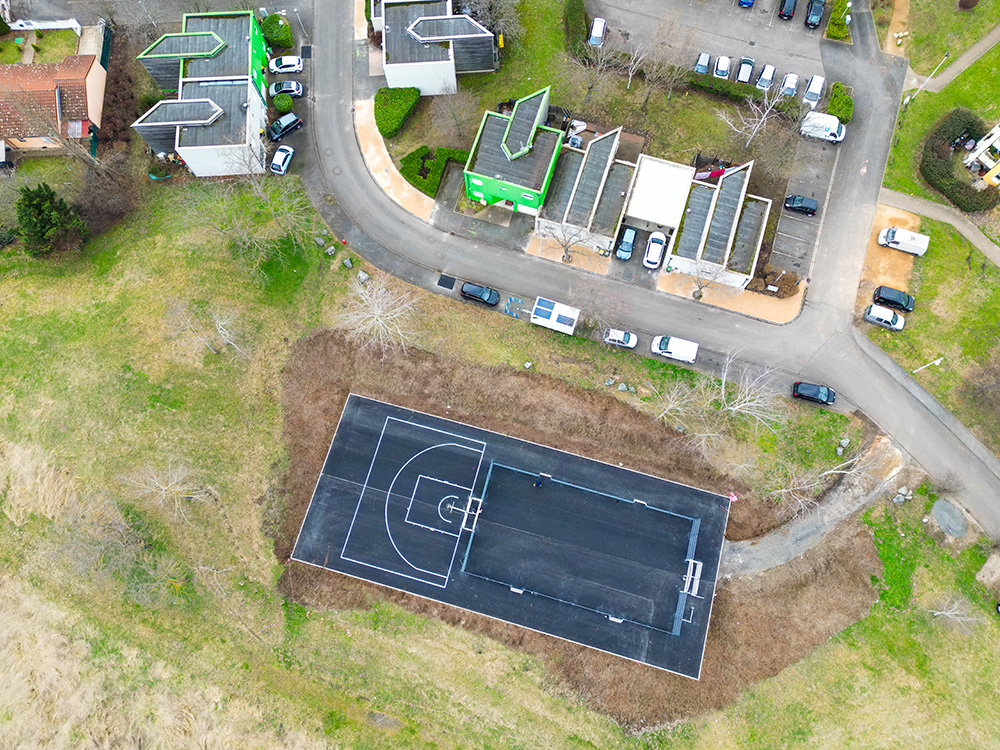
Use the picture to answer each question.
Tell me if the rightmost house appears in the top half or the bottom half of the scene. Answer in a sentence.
Seen from above, the rightmost house lies in the top half of the view.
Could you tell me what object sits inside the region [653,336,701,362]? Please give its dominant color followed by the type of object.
white vehicle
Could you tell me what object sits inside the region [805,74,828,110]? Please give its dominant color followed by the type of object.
white car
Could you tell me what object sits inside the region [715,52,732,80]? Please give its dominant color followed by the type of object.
white car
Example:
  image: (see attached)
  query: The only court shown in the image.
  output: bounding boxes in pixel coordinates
[290,394,732,681]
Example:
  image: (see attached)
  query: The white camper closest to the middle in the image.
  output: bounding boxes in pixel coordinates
[522,298,579,334]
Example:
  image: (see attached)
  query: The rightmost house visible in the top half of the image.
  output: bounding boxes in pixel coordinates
[957,126,1000,196]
